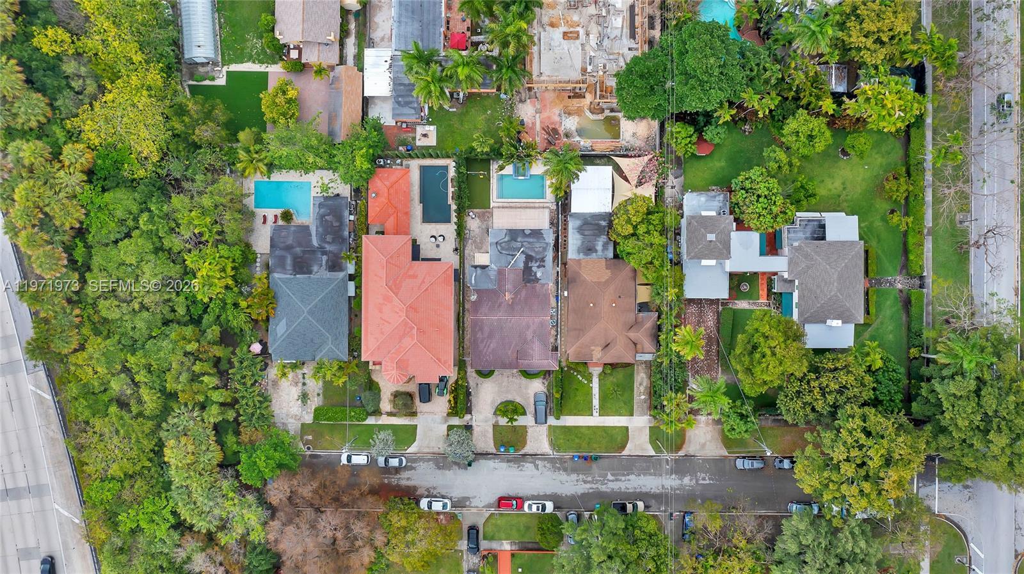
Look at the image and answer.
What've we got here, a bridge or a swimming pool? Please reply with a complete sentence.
I can see a swimming pool in this picture.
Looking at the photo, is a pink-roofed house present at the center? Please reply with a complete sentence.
Yes, a pink-roofed house shows up at the center.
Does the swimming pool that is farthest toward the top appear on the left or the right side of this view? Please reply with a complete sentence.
You can find the swimming pool that is farthest toward the top on the right side of the picture.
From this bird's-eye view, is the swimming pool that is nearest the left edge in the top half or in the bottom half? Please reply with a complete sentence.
The top half of the photo is where the swimming pool that is nearest the left edge is.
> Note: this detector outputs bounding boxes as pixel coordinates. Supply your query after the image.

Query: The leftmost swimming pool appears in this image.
[253,179,313,221]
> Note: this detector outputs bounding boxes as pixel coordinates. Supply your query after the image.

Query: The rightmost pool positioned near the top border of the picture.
[697,0,744,41]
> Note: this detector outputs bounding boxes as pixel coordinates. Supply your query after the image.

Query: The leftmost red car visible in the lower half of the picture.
[497,497,523,510]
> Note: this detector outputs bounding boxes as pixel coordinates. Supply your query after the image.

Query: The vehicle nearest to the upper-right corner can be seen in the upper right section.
[995,93,1014,122]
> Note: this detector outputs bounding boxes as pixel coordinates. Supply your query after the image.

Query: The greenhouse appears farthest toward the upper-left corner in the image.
[183,0,222,69]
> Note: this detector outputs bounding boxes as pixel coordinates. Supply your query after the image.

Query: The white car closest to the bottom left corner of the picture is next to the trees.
[341,452,371,465]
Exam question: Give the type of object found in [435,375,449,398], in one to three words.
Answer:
car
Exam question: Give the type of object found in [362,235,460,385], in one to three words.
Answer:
house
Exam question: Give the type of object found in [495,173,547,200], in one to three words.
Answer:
swimming pool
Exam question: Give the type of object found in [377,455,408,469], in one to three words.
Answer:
car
